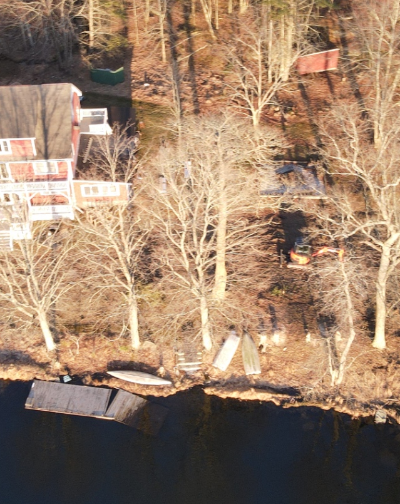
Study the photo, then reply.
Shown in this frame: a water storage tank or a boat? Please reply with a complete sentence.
Looking from above, you can make out a boat.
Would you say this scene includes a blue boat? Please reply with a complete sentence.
No, there appears to be no blue boat in this shot.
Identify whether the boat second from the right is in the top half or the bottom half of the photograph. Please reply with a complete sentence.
Seen from above, the boat second from the right lies in the bottom half of the view.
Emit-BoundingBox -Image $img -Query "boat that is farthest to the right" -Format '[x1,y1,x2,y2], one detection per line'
[241,331,262,375]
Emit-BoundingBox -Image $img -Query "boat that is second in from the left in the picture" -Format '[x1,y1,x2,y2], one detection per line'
[212,332,241,371]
